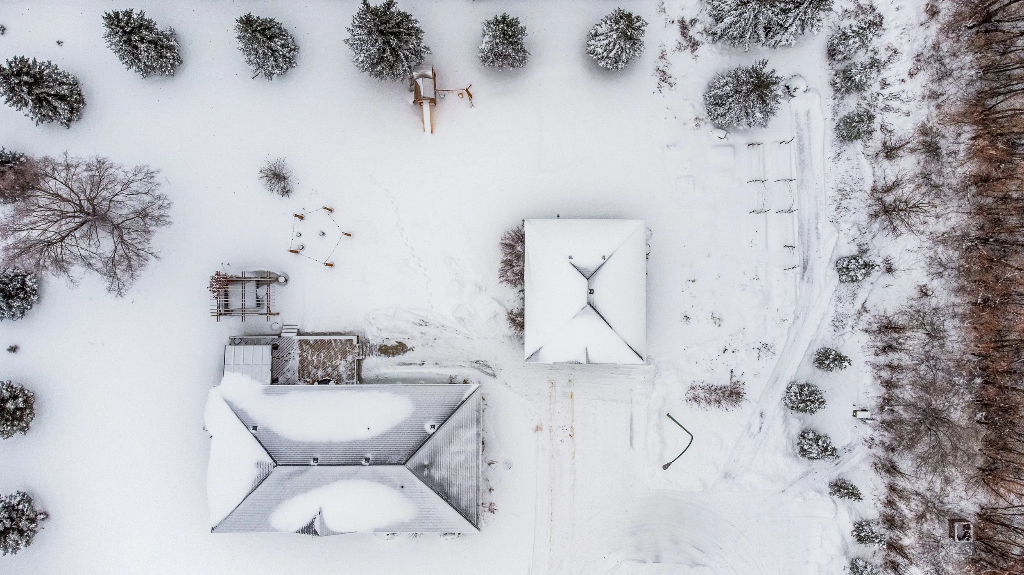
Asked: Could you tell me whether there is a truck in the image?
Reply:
No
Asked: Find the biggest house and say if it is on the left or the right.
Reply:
left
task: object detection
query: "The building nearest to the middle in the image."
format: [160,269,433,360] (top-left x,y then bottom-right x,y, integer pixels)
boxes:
[523,214,647,366]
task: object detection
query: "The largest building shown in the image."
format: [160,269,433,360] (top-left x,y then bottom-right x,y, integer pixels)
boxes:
[204,345,481,538]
